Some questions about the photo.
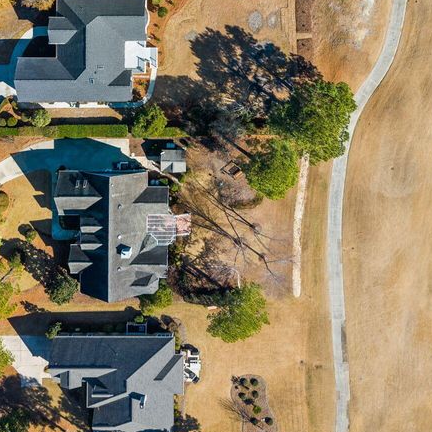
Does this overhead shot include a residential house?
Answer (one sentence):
Yes, the picture does show a residential house.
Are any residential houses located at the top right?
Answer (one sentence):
No, I see no residential house at the top right.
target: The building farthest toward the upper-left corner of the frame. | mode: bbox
[8,0,157,102]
